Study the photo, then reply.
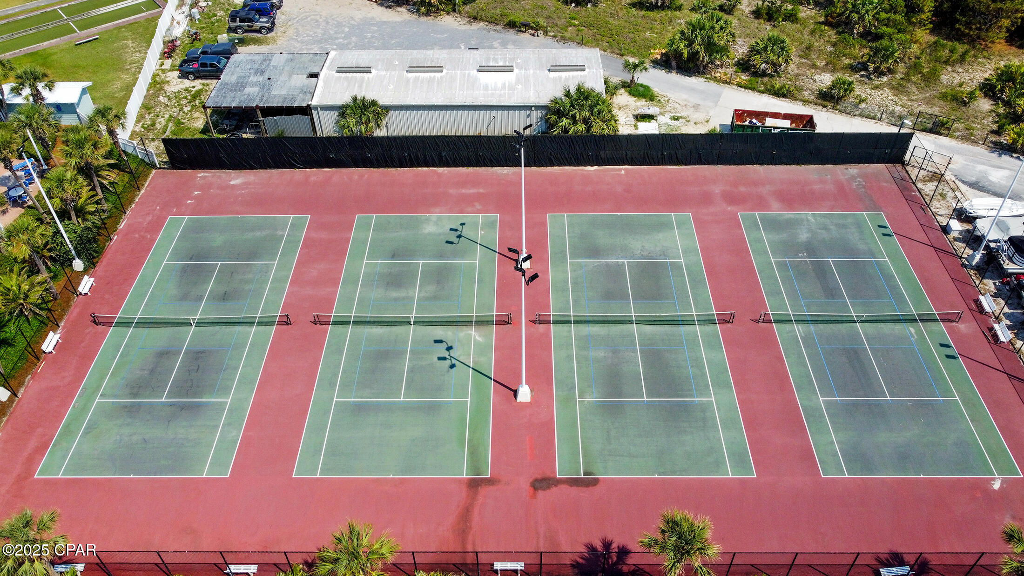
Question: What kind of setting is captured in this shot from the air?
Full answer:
The picture captures a sports ground.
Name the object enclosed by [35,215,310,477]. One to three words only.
tennis court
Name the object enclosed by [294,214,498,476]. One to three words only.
tennis court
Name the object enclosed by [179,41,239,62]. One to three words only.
truck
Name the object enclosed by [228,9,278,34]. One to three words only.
car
